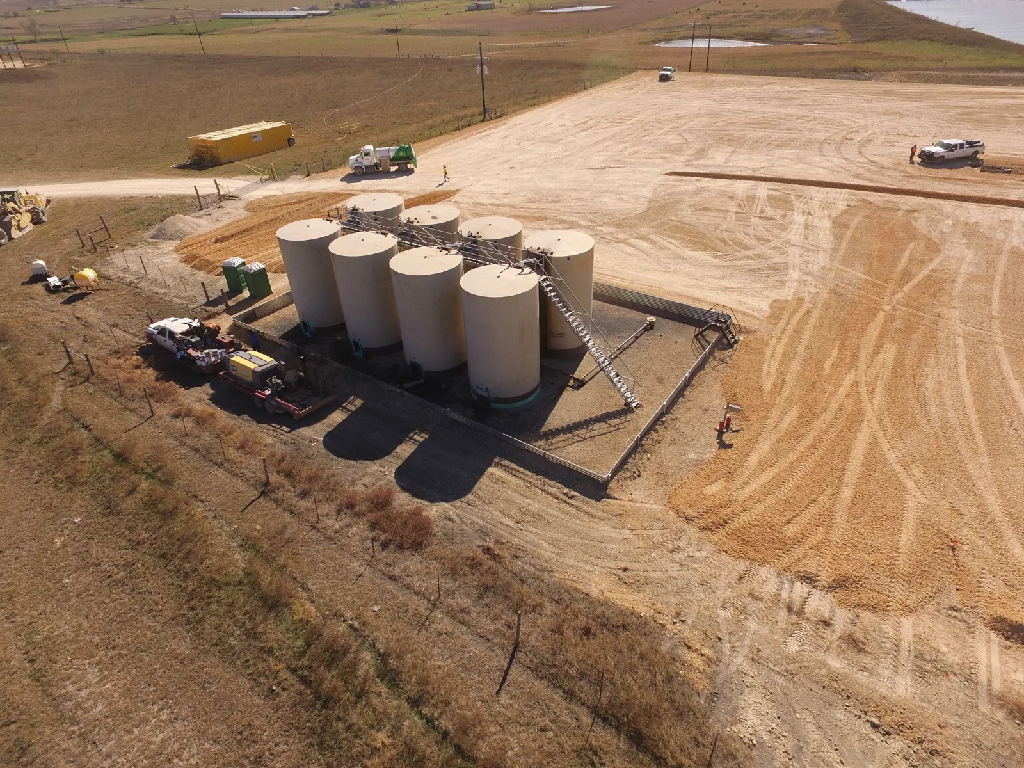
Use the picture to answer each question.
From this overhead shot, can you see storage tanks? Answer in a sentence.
Yes, a storage tank appears in the view.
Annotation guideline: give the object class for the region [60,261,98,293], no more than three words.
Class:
storage tank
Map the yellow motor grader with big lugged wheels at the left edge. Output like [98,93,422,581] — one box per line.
[0,191,53,250]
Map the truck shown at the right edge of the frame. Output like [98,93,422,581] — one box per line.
[916,137,987,164]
